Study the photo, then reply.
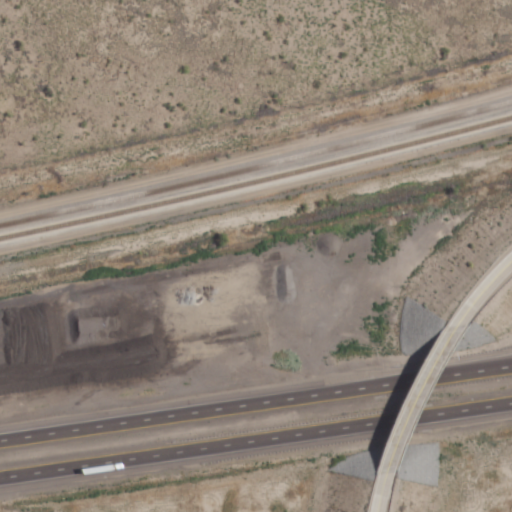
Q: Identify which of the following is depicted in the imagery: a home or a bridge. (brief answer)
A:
bridge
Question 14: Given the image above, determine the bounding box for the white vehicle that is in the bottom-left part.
[82,462,125,474]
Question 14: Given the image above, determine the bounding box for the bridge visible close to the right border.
[371,279,496,504]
